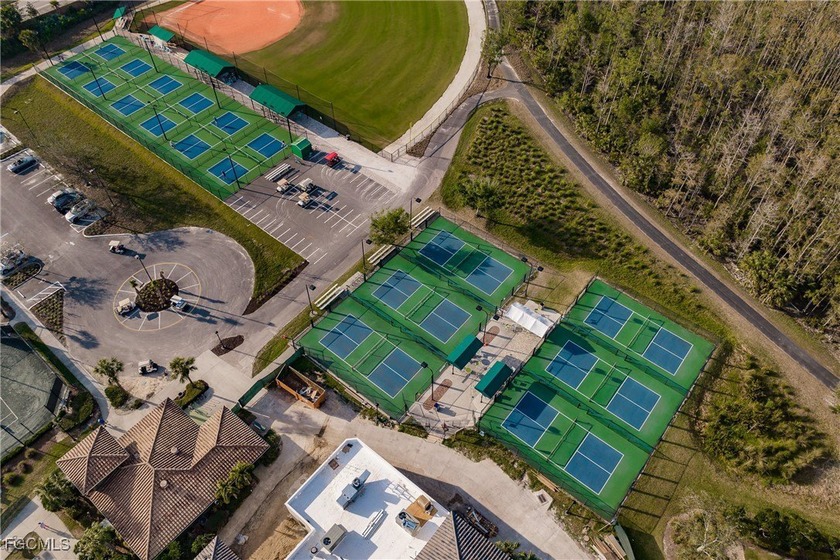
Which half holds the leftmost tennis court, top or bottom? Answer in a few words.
bottom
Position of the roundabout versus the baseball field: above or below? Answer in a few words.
below it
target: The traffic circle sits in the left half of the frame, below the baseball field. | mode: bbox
[113,262,202,331]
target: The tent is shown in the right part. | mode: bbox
[503,294,559,346]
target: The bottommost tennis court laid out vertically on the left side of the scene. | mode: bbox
[0,313,60,461]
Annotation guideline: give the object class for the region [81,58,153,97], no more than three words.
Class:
sports court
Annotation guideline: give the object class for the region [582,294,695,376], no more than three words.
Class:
sports court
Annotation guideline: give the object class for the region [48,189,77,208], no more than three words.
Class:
car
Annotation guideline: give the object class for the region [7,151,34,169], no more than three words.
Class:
car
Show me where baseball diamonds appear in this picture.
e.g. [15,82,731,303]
[91,0,486,160]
